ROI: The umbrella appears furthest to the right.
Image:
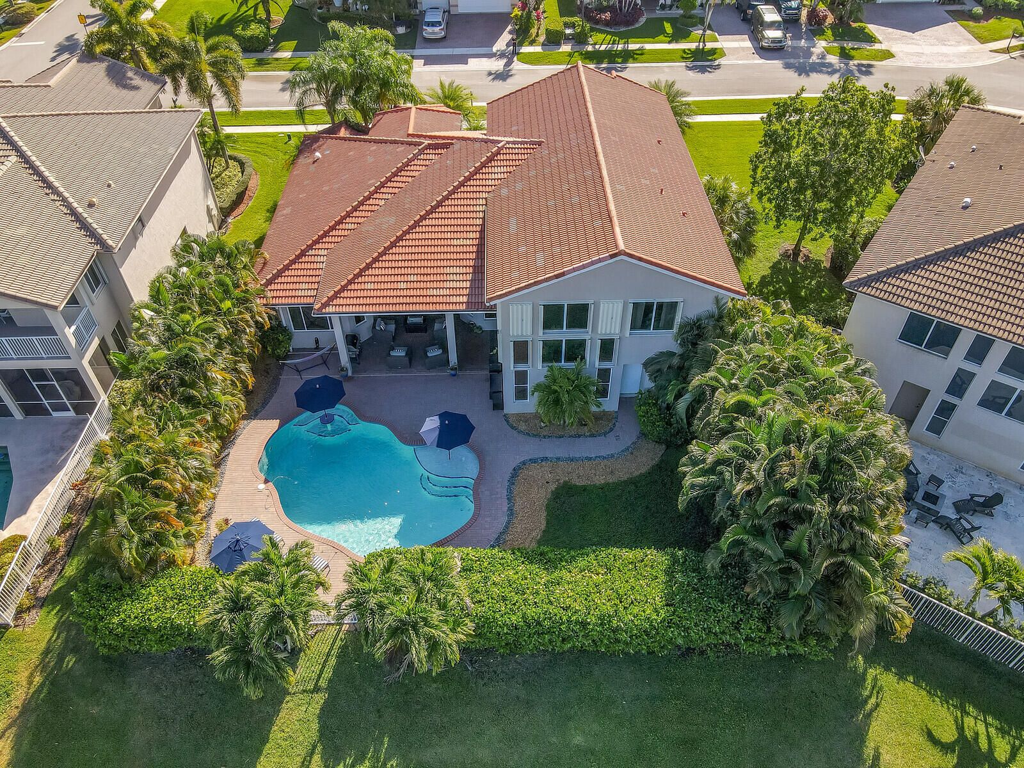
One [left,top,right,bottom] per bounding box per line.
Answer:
[418,406,473,461]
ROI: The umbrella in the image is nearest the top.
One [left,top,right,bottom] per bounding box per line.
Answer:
[290,369,345,414]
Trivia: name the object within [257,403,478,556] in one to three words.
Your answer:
swimming pool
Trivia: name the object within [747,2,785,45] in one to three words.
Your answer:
car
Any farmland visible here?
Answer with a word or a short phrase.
No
